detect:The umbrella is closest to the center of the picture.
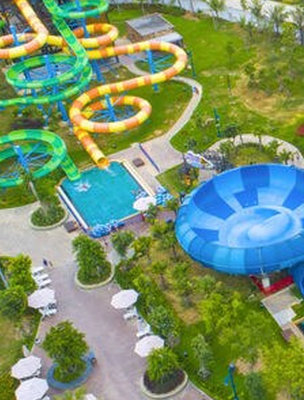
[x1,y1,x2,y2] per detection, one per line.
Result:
[134,197,157,220]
